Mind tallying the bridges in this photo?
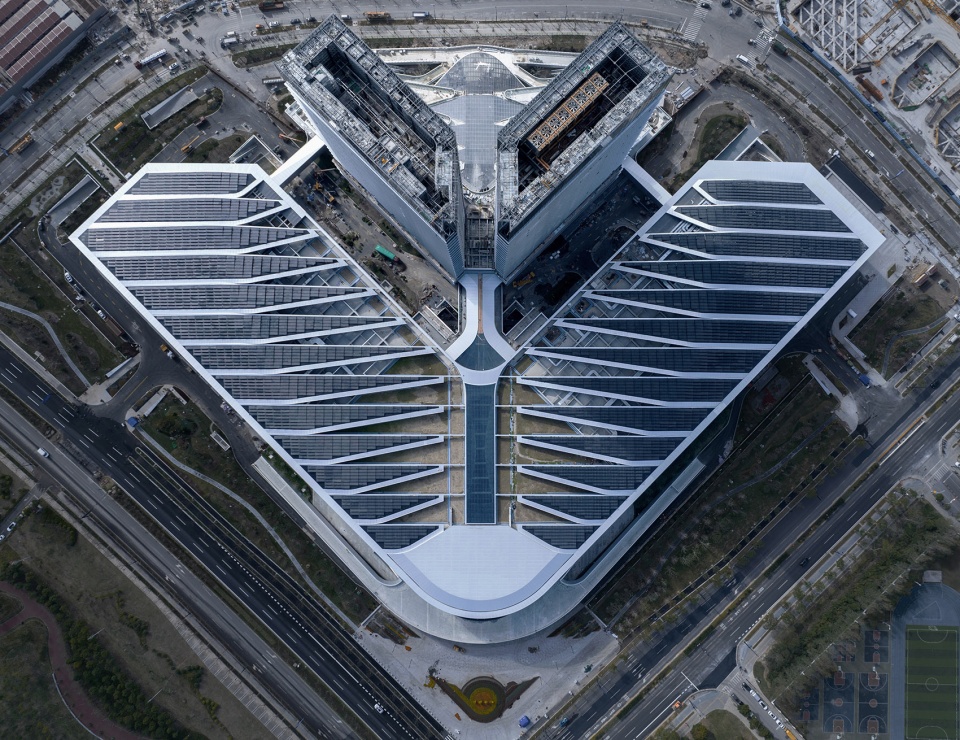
2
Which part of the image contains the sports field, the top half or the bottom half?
bottom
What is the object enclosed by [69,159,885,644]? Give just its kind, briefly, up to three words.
building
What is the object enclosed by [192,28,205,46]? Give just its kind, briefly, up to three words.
vehicle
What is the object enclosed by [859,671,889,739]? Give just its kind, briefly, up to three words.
basketball court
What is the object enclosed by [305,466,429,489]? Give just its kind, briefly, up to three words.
solar array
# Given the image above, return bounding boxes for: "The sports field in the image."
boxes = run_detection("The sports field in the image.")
[906,626,958,740]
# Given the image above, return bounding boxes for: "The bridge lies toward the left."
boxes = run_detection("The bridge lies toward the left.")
[268,133,329,193]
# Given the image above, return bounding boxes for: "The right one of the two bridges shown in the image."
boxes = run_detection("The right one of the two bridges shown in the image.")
[616,154,673,212]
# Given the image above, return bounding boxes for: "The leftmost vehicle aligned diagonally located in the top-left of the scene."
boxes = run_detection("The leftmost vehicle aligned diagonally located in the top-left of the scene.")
[7,133,30,152]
